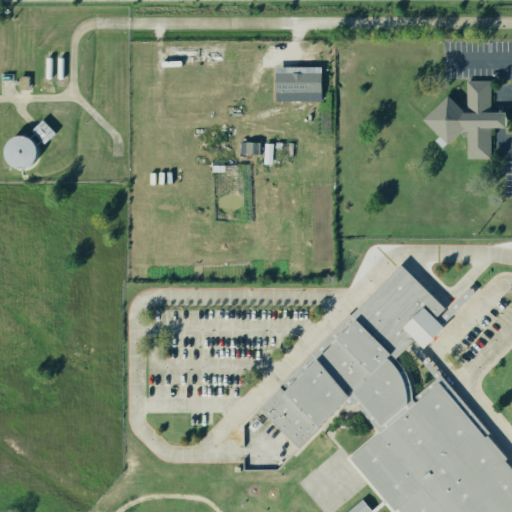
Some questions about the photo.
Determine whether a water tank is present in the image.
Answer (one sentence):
Yes, the frame does contain a water tank.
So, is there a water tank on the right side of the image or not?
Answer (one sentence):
No, there is no water tank on the right side of the image.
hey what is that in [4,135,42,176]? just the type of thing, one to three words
water tank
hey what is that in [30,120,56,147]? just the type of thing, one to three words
building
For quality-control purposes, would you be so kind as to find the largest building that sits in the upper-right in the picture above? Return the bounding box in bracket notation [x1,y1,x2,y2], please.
[424,81,506,159]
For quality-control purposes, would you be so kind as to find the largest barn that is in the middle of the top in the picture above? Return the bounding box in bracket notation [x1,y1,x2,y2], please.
[276,68,322,102]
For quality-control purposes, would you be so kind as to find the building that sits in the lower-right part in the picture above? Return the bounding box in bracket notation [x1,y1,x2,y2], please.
[258,265,512,512]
